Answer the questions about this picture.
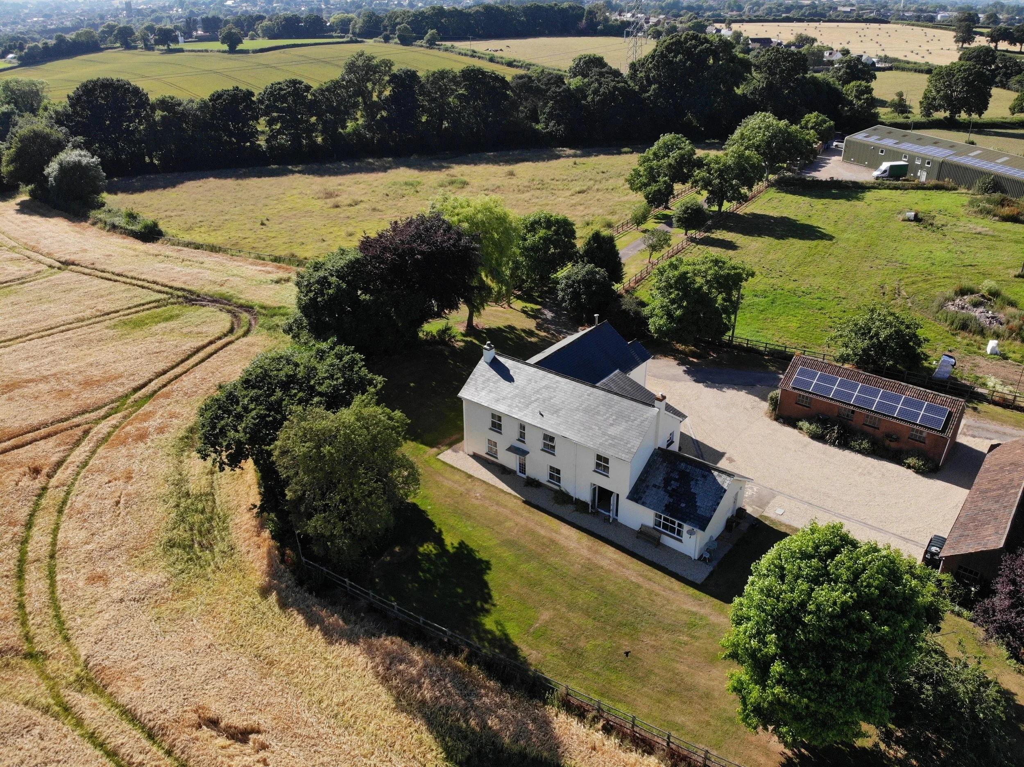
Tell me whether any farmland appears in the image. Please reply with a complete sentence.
Yes, some farmland is visible.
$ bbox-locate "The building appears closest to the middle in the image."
[458,309,751,558]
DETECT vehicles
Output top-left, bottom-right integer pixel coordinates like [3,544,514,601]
[872,160,919,182]
[906,512,957,570]
[828,141,844,152]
